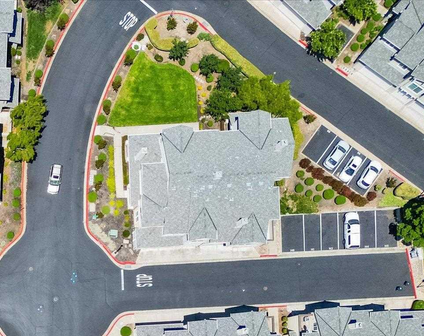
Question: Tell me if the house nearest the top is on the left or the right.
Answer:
right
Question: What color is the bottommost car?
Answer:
white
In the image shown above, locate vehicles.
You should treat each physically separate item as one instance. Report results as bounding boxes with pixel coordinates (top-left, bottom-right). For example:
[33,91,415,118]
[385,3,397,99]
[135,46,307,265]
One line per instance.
[343,212,363,247]
[356,160,383,191]
[323,141,349,171]
[338,154,364,183]
[46,163,63,196]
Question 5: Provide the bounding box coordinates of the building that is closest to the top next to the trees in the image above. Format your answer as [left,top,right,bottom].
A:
[274,0,339,35]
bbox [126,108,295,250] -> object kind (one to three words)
house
